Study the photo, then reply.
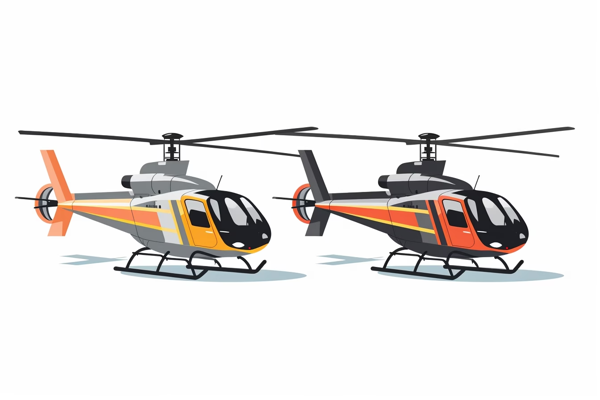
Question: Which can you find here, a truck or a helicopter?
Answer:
helicopter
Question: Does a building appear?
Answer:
No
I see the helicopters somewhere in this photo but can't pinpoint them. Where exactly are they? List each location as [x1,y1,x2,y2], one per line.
[18,127,319,281]
[275,128,577,281]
